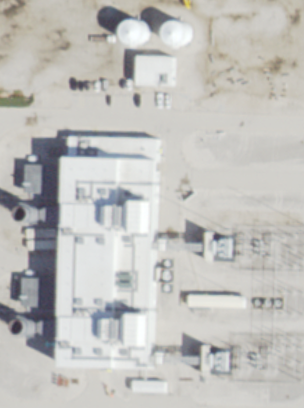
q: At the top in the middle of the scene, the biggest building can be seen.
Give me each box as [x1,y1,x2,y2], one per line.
[134,54,176,86]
